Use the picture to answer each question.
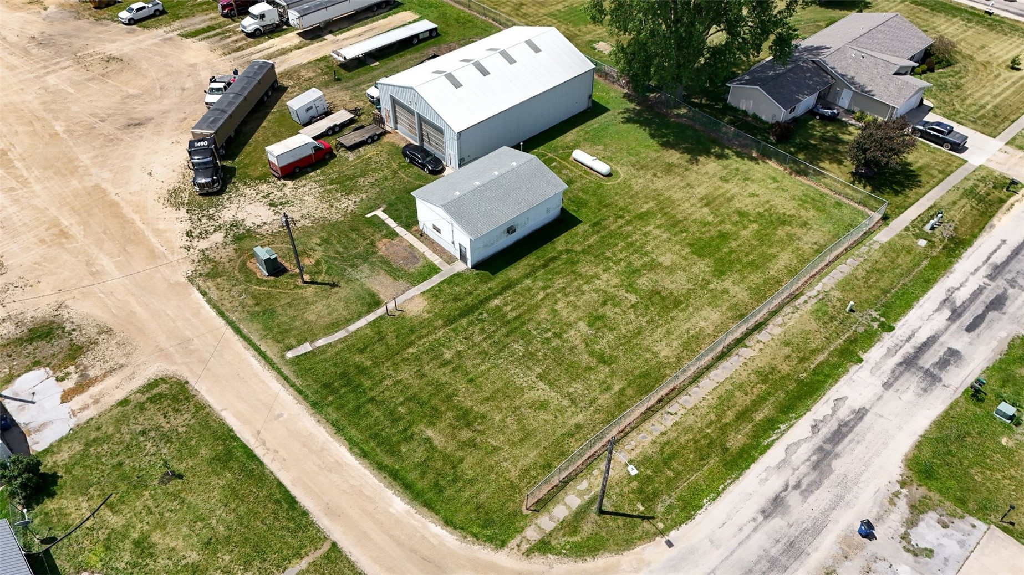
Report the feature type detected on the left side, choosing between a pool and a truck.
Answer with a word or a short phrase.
truck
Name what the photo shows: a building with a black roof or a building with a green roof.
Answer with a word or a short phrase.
building with a black roof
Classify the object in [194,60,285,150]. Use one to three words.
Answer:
trailer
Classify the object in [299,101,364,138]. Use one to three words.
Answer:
trailer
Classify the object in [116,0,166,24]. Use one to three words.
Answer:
truck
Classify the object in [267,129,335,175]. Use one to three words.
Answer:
van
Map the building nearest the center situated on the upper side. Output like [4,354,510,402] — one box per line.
[407,142,570,268]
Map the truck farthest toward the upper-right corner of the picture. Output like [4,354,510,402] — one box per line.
[911,120,970,150]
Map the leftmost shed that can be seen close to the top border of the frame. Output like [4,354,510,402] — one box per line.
[376,26,595,170]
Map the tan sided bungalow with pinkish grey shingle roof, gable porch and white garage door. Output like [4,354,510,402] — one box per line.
[776,12,934,129]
